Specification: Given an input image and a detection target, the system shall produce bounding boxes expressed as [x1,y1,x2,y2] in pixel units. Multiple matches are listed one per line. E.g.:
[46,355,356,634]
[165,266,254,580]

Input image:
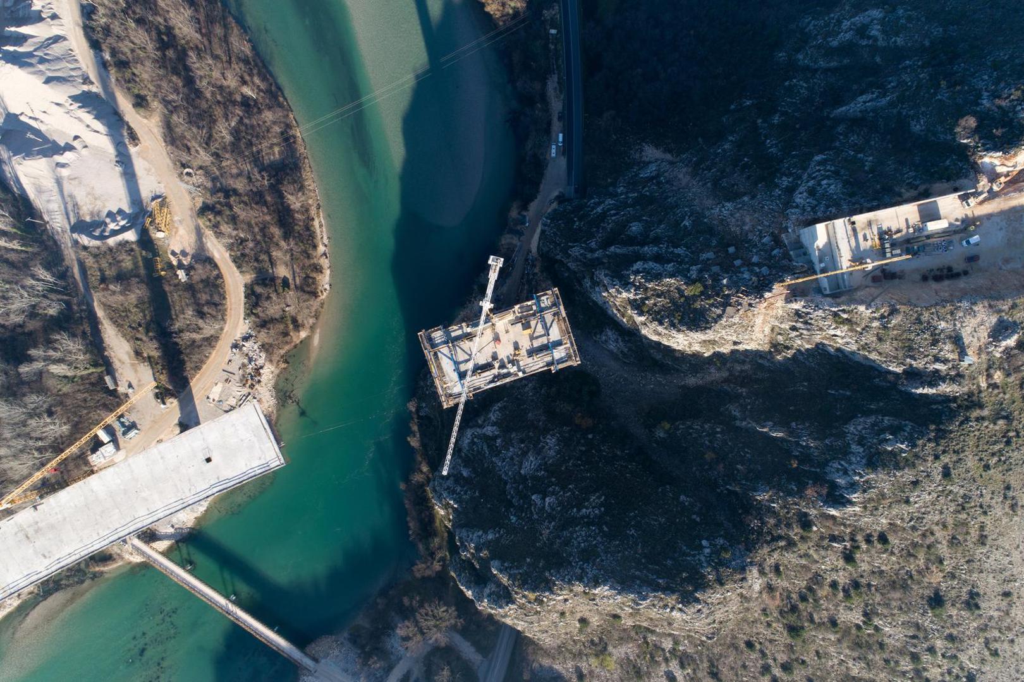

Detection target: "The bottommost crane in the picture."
[0,381,157,515]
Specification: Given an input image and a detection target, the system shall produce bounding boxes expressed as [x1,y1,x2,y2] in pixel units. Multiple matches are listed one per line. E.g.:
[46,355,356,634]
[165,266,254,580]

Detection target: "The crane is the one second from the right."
[443,258,504,476]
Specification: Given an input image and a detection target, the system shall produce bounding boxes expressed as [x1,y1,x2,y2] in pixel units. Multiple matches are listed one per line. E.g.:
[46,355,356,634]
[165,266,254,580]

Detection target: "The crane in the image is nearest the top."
[772,254,910,289]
